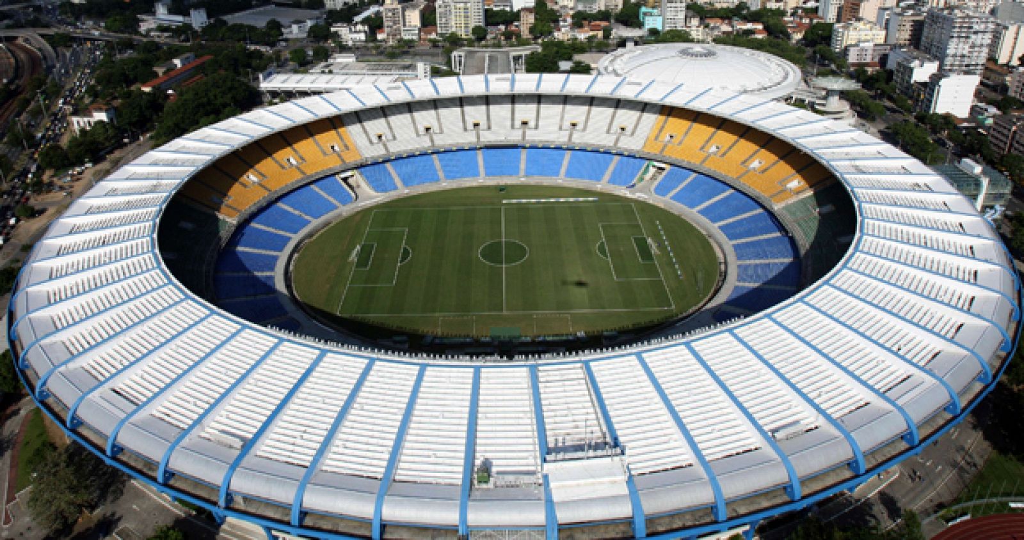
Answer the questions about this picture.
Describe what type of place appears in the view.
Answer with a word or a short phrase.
sports ground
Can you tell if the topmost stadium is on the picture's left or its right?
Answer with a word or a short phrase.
right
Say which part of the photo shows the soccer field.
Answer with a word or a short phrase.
center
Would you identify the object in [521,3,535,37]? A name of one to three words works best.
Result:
building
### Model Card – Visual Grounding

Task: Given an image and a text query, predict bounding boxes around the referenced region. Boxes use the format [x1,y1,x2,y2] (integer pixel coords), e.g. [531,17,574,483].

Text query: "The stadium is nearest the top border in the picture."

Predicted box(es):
[598,41,805,104]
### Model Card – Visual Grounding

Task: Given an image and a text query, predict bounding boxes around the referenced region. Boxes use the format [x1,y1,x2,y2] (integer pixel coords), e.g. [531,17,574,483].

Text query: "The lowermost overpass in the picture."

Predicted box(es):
[0,28,200,50]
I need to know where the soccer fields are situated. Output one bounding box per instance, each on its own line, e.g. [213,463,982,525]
[298,182,723,352]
